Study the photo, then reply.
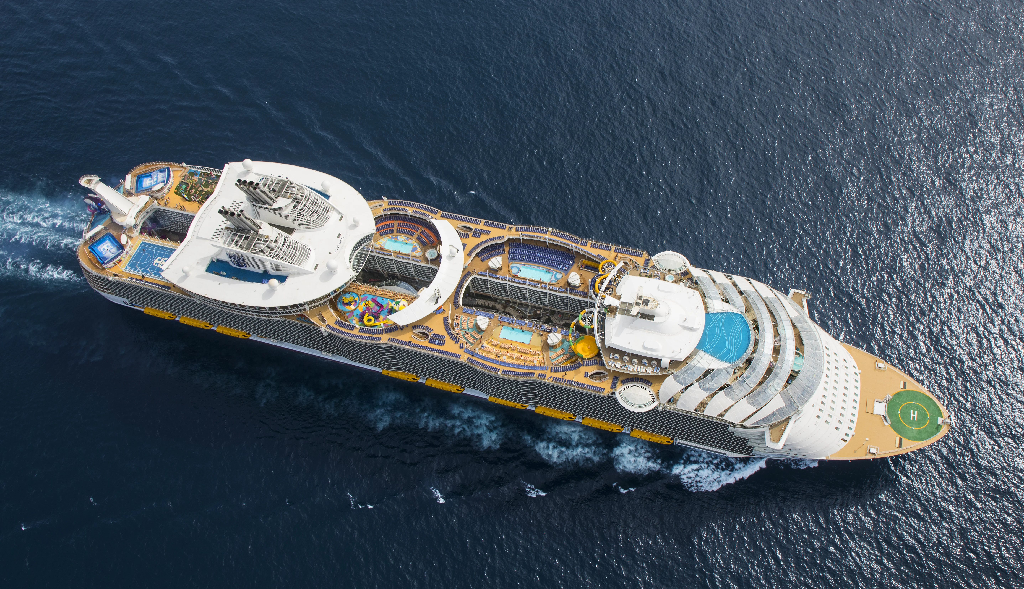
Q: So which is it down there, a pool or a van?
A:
pool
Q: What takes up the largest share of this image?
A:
water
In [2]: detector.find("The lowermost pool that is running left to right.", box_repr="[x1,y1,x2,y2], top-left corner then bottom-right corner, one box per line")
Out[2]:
[492,324,543,347]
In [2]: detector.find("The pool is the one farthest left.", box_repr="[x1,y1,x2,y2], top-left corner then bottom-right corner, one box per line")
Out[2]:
[335,290,361,314]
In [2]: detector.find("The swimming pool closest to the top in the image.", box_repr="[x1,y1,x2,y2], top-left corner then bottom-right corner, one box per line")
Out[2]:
[375,235,423,256]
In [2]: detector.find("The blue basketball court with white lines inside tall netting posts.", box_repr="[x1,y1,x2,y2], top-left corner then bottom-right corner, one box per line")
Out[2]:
[107,229,183,280]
